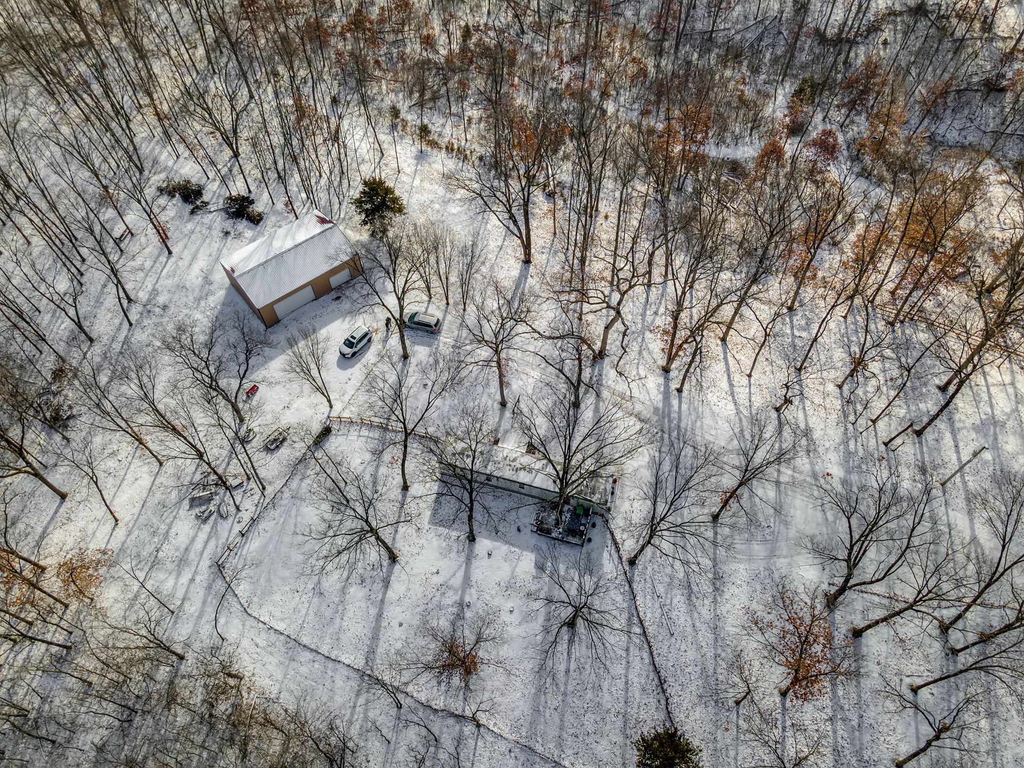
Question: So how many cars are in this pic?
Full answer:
There are 2 cars in the image.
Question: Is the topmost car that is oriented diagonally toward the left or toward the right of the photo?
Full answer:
The topmost car that is oriented diagonally appears in the left half of the scene.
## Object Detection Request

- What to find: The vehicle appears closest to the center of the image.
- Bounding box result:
[401,311,440,333]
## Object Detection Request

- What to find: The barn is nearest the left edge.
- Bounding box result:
[213,213,364,328]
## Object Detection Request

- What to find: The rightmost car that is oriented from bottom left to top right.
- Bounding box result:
[339,325,373,357]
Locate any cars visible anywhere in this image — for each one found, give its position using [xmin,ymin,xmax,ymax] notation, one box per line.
[339,325,373,357]
[401,311,440,333]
